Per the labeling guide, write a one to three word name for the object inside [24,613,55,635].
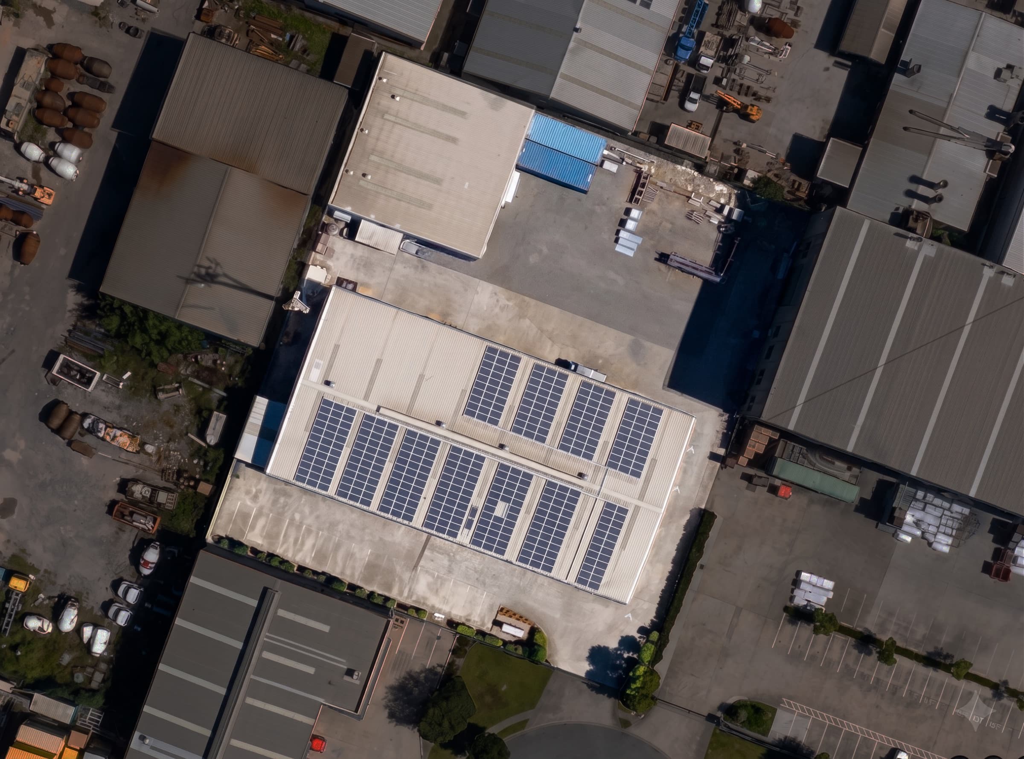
car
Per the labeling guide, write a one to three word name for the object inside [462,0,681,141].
warehouse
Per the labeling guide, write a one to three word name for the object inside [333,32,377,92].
shed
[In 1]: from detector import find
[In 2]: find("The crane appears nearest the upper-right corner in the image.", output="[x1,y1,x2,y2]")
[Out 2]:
[715,89,765,131]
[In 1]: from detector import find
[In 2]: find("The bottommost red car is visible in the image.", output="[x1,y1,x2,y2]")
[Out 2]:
[308,732,334,753]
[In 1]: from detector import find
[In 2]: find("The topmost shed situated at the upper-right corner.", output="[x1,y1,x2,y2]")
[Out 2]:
[833,0,908,69]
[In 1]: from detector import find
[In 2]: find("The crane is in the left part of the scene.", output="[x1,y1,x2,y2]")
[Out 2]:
[0,172,66,212]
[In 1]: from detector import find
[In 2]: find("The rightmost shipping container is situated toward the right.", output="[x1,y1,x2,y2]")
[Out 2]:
[766,457,860,504]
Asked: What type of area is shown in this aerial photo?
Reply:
industrial area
